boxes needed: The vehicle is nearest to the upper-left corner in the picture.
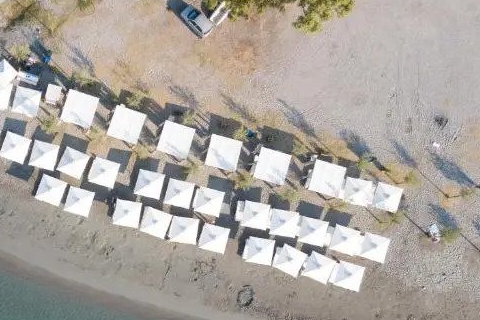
[178,5,212,40]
